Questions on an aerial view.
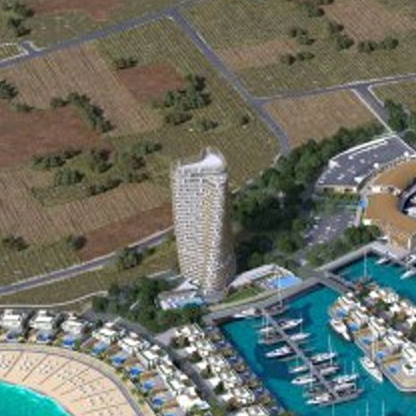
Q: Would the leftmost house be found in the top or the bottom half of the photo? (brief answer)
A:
bottom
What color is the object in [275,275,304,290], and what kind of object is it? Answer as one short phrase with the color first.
blue swimming pool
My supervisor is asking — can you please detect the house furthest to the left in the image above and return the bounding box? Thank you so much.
[1,308,26,341]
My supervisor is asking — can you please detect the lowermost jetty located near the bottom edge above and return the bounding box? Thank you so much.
[256,311,367,409]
